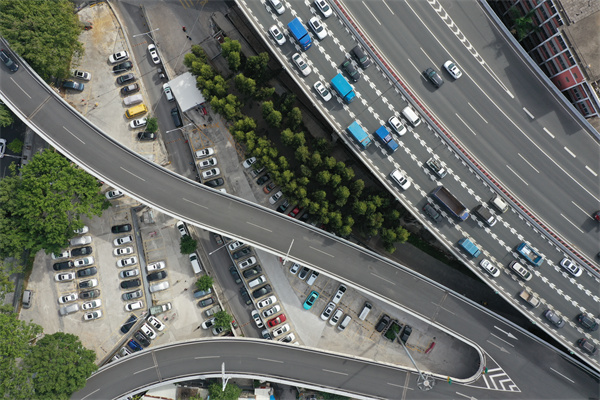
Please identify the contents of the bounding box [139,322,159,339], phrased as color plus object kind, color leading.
white car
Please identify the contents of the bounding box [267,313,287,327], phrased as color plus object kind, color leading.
red vehicle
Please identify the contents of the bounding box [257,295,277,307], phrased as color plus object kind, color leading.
white vehicle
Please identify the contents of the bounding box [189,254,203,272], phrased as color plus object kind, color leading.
white vehicle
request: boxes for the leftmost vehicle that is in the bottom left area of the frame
[22,289,35,308]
